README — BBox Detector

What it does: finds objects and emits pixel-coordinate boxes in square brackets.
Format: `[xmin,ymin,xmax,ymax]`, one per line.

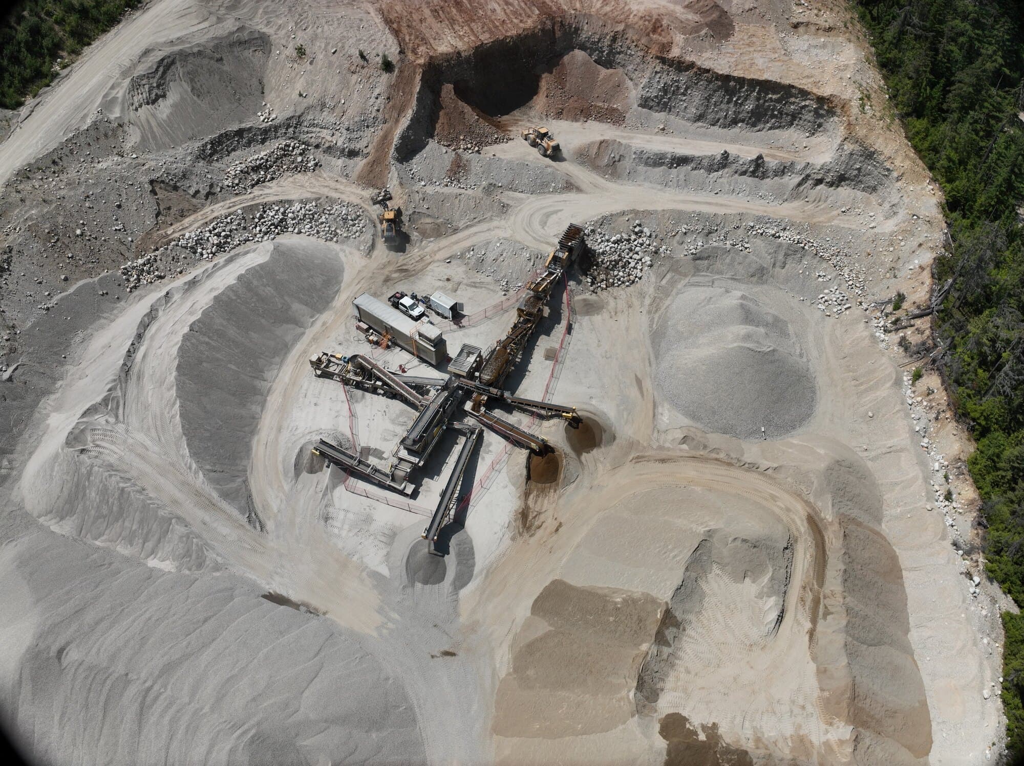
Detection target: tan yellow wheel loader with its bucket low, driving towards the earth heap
[516,130,562,157]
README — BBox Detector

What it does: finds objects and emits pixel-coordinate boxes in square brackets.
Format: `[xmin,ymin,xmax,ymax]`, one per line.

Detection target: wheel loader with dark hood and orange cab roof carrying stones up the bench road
[369,200,402,245]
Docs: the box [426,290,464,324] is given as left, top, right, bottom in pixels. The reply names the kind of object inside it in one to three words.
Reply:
trailer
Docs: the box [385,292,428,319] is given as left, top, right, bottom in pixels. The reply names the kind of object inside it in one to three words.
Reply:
truck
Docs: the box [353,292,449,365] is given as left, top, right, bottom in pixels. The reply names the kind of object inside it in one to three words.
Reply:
trailer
